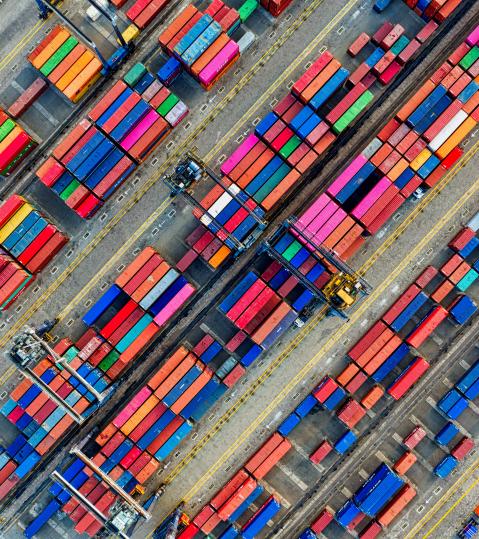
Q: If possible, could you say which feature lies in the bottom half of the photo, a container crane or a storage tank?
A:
container crane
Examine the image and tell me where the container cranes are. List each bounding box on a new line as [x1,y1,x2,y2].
[2,316,123,424]
[151,501,187,539]
[166,151,267,256]
[52,424,166,539]
[36,0,136,79]
[256,222,365,318]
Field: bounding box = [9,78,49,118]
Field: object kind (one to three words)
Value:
shipping container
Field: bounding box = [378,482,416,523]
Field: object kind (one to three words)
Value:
shipping container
